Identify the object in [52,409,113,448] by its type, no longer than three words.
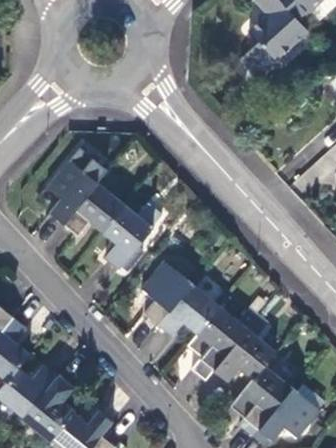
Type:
house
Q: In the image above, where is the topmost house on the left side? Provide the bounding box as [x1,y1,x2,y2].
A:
[70,136,118,183]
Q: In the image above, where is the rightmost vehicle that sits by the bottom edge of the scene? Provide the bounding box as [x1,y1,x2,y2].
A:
[232,430,252,448]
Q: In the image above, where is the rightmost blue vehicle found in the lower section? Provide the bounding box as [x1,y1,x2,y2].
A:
[96,357,117,379]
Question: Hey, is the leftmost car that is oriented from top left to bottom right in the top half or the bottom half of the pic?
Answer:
bottom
